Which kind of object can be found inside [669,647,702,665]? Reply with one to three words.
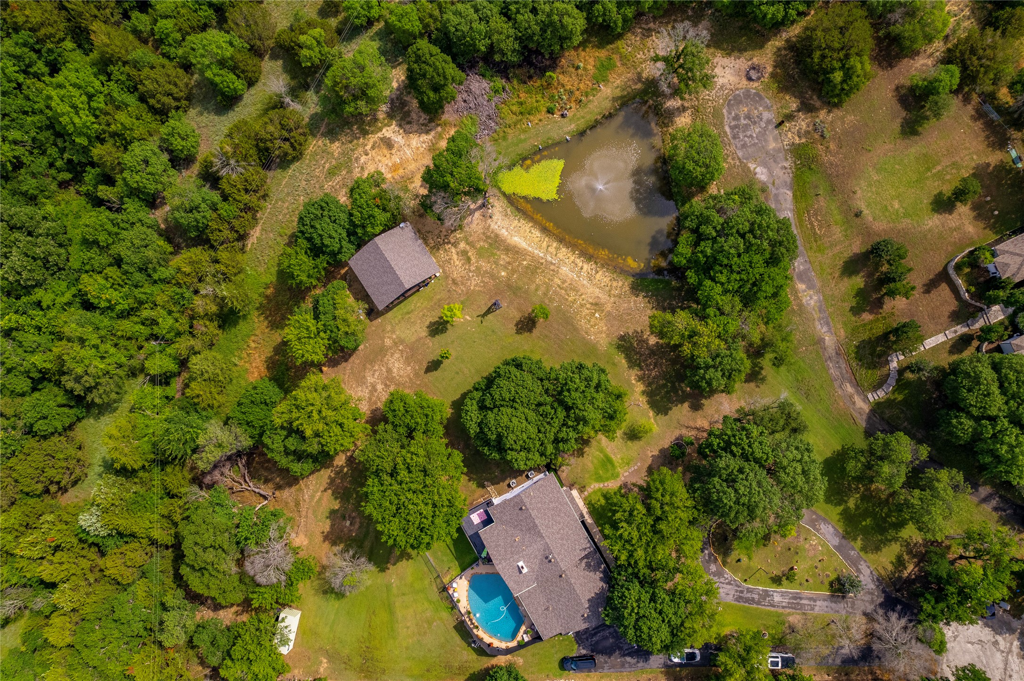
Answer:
car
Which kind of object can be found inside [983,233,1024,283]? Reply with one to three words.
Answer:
house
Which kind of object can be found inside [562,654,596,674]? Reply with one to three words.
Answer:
car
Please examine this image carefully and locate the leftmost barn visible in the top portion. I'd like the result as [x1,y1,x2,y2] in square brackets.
[348,222,440,310]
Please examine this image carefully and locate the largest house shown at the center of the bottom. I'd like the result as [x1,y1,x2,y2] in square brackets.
[478,468,619,640]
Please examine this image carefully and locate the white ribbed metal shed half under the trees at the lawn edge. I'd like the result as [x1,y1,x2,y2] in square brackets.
[270,610,300,655]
